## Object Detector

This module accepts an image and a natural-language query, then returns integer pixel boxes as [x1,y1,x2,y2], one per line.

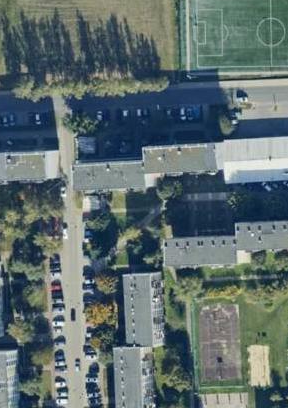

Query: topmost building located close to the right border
[223,137,288,183]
